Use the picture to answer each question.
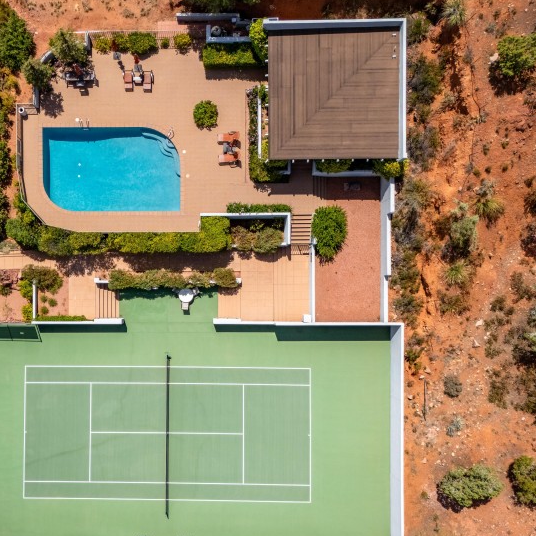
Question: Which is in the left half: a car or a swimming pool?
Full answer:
Visible in the left half is a swimming pool.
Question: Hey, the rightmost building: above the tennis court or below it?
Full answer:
As seen from overhead, the rightmost building falls above the tennis court in the picture.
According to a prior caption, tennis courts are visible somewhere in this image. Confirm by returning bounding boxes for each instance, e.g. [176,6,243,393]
[0,288,388,536]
